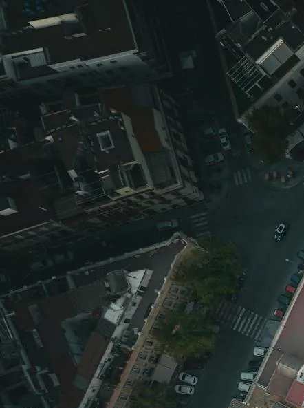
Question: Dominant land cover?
buildings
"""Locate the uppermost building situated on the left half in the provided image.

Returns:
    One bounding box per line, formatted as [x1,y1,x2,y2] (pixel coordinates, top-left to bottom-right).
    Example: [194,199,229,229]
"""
[0,0,174,108]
